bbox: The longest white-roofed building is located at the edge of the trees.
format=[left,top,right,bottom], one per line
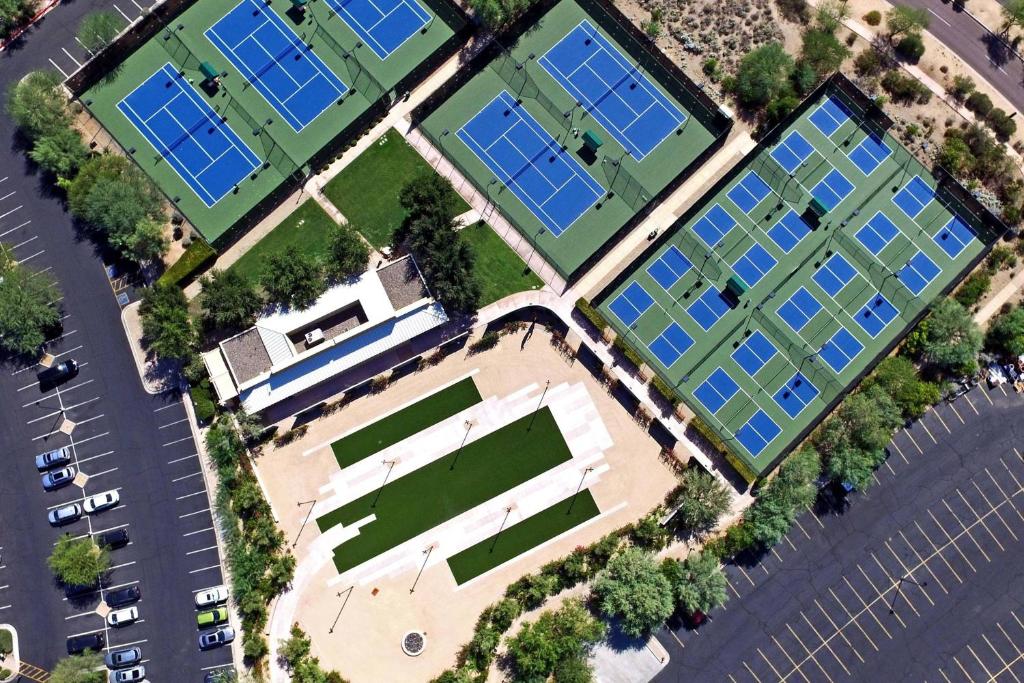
[219,254,449,415]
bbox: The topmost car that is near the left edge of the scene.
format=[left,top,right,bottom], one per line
[37,365,76,389]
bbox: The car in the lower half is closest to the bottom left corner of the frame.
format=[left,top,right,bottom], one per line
[70,632,104,653]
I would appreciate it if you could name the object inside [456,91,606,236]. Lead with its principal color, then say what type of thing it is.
blue tennis court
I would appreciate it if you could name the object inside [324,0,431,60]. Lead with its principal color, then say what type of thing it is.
blue tennis court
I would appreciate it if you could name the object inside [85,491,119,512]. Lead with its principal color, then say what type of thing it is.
white car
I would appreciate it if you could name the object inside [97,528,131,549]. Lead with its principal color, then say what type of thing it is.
black car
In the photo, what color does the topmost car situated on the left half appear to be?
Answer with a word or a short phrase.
black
